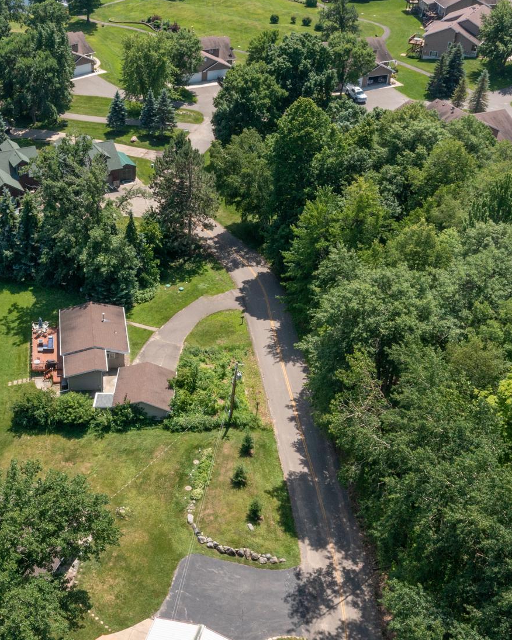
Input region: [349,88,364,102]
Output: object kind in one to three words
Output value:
vehicle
